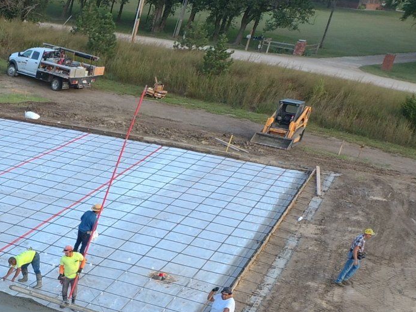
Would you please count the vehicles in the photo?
2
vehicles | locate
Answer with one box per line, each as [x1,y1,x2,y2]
[18,49,105,91]
[252,95,325,150]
